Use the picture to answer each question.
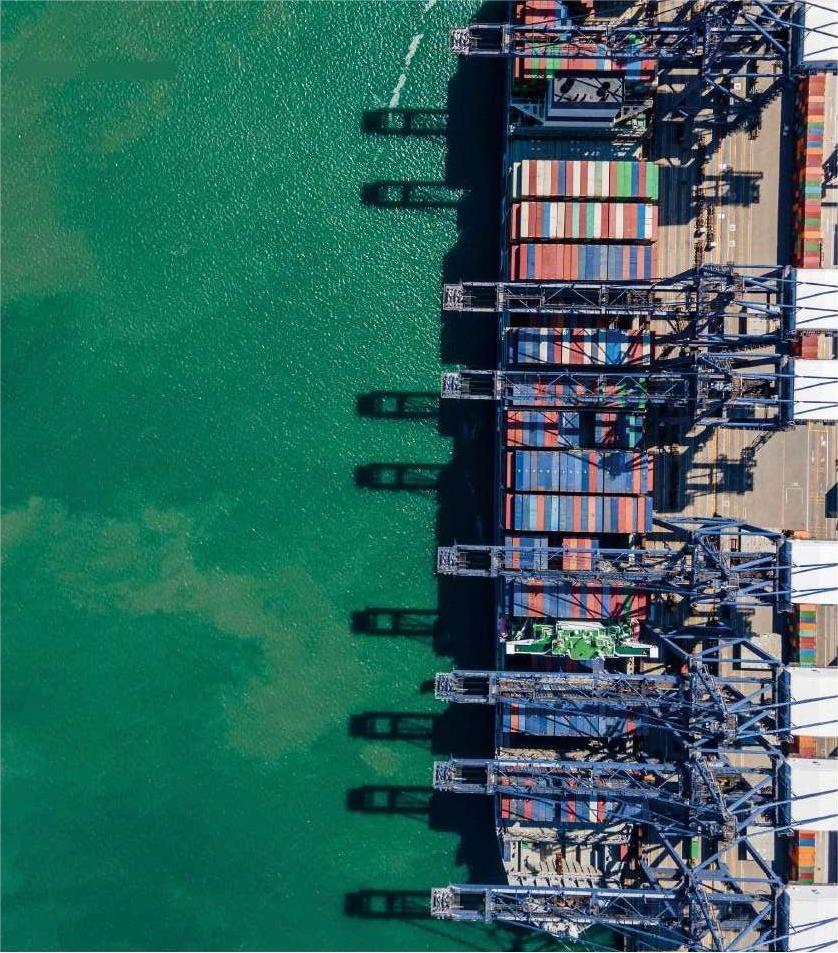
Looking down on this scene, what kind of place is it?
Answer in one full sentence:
What you see here is a port.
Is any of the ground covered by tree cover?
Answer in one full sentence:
No, there is no tree cover in the image.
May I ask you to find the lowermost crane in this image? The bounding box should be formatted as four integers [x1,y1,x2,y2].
[430,808,838,953]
